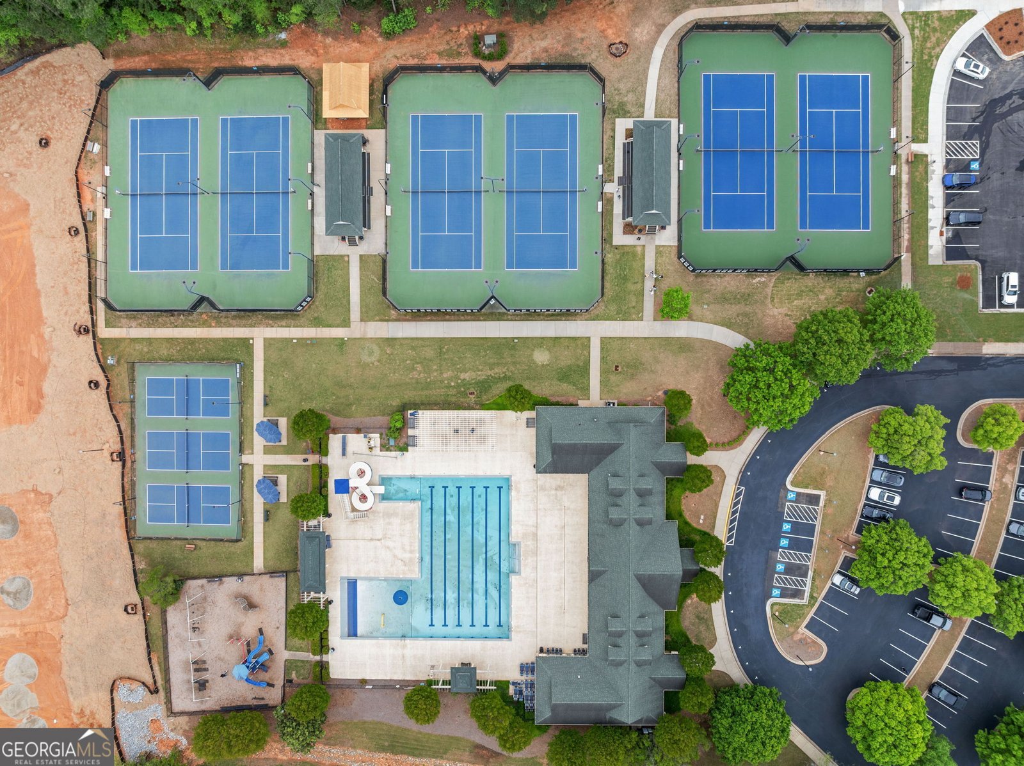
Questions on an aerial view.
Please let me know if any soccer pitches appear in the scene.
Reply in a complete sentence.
No, I can see no soccer pitch in this picture.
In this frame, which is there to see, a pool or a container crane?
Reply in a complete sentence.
Of the two, only a pool appears.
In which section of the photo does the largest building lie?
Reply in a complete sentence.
The largest building is located in the bottom region of the scene.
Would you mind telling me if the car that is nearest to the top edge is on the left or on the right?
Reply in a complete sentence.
The car that is nearest to the top edge is on the right side of the image.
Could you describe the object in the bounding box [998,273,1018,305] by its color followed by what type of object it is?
white car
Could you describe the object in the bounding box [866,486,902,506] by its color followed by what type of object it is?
white car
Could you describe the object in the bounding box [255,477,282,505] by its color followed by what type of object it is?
blue umbrella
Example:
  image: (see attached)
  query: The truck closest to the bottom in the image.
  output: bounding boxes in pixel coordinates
[926,682,968,713]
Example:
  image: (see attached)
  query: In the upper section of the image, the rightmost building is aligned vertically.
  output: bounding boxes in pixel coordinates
[622,119,671,234]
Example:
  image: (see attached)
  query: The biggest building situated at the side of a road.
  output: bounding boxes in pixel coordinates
[534,406,701,726]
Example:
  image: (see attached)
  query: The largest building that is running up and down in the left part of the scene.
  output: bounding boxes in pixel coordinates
[324,132,372,246]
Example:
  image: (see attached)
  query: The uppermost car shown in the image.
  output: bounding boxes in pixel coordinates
[952,59,988,80]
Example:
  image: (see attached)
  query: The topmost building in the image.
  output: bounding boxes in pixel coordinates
[322,62,371,122]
